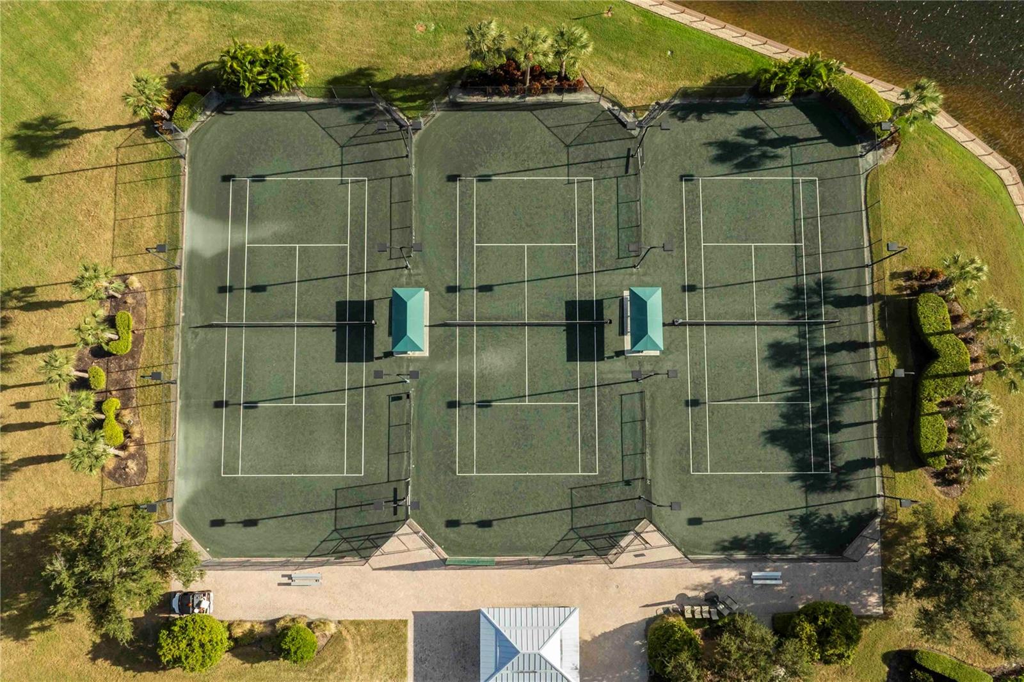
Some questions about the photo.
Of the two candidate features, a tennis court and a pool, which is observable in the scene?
tennis court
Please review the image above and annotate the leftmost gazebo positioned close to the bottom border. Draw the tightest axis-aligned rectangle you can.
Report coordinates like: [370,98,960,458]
[480,605,579,682]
